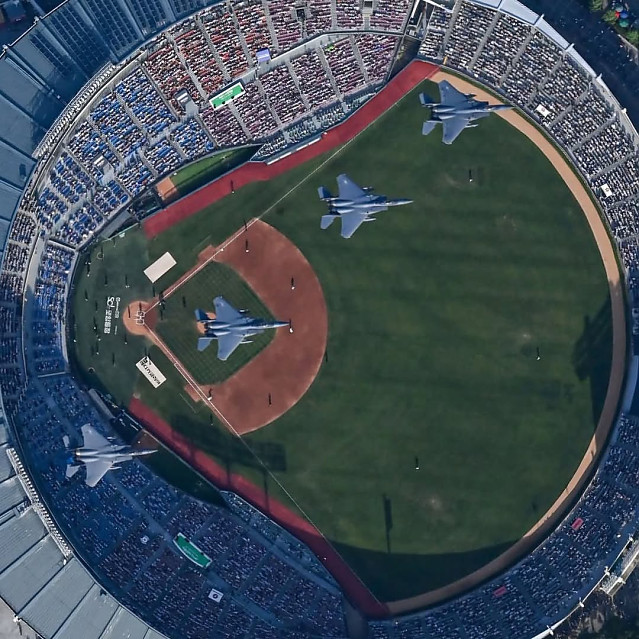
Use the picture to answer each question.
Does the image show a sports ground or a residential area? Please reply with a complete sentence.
What you see here is a sports ground.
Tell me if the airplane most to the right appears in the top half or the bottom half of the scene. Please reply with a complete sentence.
Seen from above, the airplane most to the right lies in the top half of the view.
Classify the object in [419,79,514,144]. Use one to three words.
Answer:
airplane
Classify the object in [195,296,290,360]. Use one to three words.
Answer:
airplane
